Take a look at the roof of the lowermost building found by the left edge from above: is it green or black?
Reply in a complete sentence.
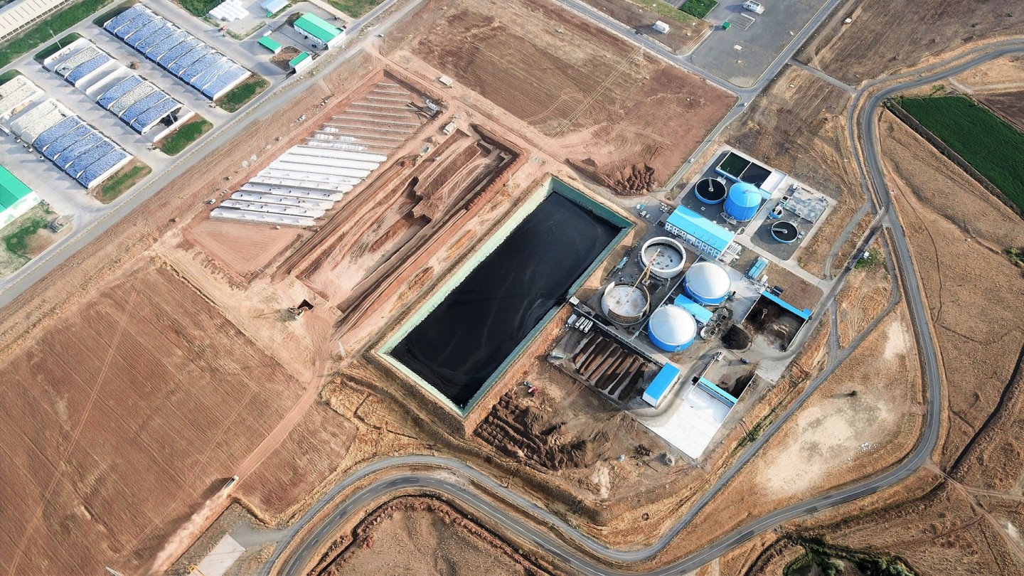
The roof of the lowermost building found by the left edge looks green in the image.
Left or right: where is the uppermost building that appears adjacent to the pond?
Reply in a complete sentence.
You can find the uppermost building that appears adjacent to the pond on the right side of the picture.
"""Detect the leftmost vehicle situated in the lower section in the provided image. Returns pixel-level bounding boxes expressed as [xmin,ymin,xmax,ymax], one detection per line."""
[220,475,237,492]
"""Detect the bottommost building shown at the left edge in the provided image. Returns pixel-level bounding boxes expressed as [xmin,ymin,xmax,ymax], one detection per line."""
[0,158,37,220]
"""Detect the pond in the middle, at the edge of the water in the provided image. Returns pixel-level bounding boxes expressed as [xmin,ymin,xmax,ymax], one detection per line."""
[377,176,635,418]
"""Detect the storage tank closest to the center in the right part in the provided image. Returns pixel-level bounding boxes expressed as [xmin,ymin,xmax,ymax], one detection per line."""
[603,285,649,324]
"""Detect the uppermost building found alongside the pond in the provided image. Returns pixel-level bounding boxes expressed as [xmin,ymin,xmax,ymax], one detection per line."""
[664,205,735,258]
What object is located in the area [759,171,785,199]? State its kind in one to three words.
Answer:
building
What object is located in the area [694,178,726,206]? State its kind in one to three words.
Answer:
storage tank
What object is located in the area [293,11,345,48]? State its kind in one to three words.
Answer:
barn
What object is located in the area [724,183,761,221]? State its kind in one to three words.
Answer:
storage tank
